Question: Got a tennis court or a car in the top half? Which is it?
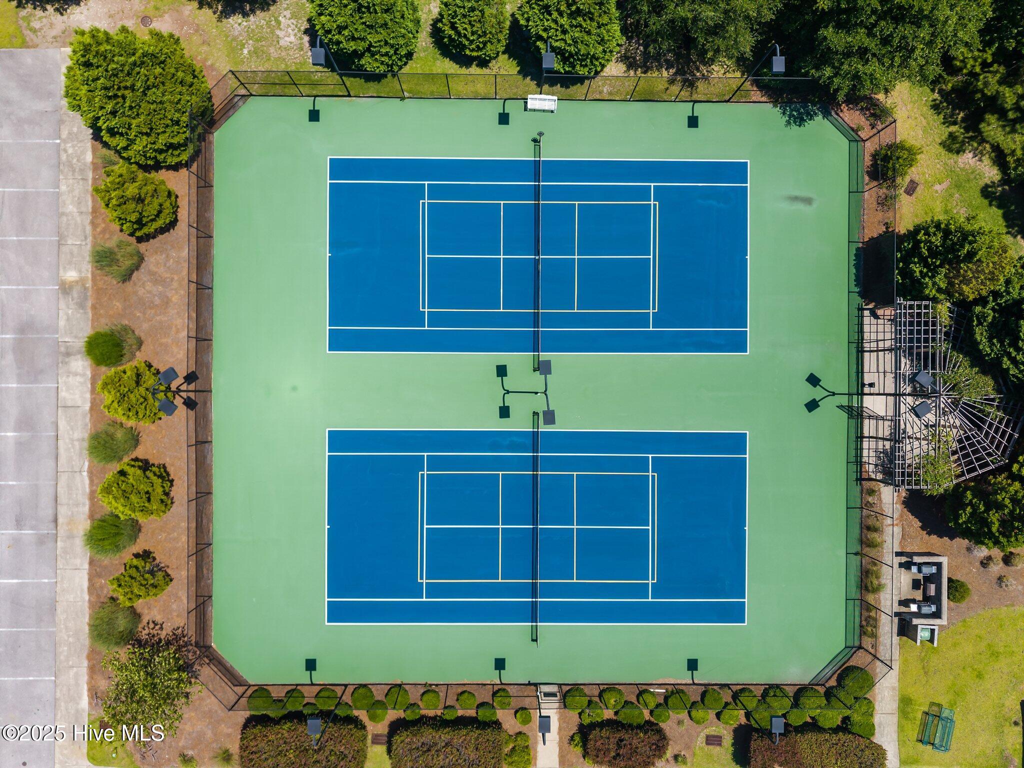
tennis court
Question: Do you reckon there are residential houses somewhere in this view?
No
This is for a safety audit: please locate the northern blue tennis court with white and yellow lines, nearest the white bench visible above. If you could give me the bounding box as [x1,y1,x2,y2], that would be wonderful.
[327,157,749,354]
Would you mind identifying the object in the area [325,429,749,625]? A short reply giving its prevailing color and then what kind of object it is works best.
blue tennis court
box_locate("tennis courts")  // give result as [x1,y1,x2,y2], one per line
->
[327,157,749,354]
[325,429,749,625]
